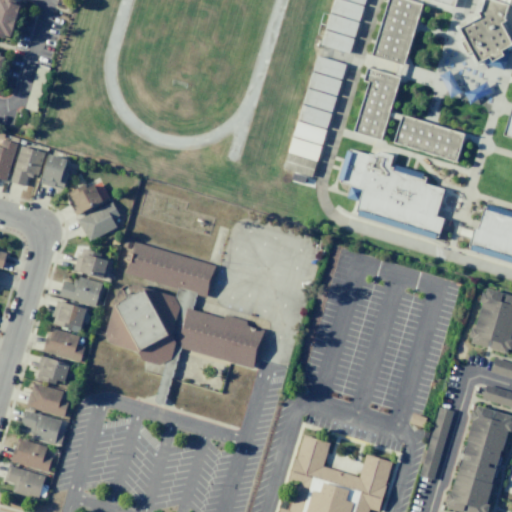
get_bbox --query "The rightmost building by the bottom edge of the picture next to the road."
[445,408,512,512]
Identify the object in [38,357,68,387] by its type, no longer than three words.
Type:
house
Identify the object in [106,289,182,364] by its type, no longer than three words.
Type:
building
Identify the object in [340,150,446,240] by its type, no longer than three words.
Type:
building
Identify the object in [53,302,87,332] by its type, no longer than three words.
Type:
house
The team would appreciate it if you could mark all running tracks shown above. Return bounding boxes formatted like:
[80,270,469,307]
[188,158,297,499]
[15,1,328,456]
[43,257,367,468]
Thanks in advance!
[104,0,289,162]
